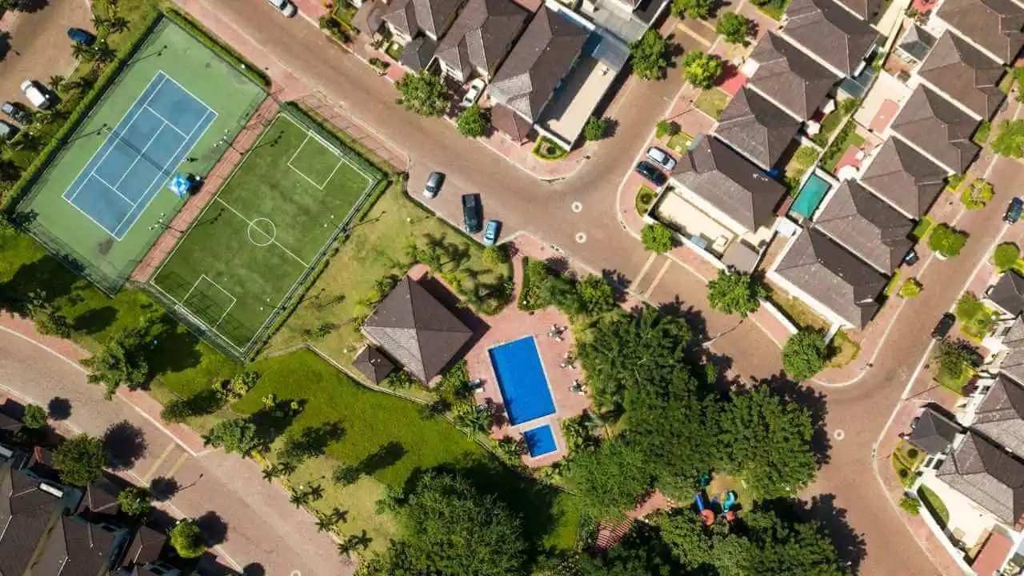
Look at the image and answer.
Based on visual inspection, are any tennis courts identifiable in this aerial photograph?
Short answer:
Yes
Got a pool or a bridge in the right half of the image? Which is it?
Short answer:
pool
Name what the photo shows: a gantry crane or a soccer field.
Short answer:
soccer field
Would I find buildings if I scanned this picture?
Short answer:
Yes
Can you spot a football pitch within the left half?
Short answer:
Yes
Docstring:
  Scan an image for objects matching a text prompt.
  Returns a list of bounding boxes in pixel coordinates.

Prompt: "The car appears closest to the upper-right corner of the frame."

[1001,195,1024,226]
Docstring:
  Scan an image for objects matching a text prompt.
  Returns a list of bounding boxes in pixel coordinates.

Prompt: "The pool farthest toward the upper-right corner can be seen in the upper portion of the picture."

[790,172,833,219]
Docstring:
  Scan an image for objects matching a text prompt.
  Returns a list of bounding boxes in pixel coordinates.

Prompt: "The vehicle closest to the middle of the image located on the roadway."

[483,219,499,246]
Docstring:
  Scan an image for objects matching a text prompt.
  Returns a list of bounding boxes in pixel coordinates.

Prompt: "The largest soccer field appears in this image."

[144,106,384,356]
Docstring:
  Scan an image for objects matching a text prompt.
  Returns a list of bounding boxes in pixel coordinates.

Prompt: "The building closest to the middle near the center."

[360,276,472,384]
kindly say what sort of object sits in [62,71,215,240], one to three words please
tennis court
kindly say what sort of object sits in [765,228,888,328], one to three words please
house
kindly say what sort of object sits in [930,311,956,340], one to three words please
car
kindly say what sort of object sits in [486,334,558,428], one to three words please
swimming pool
